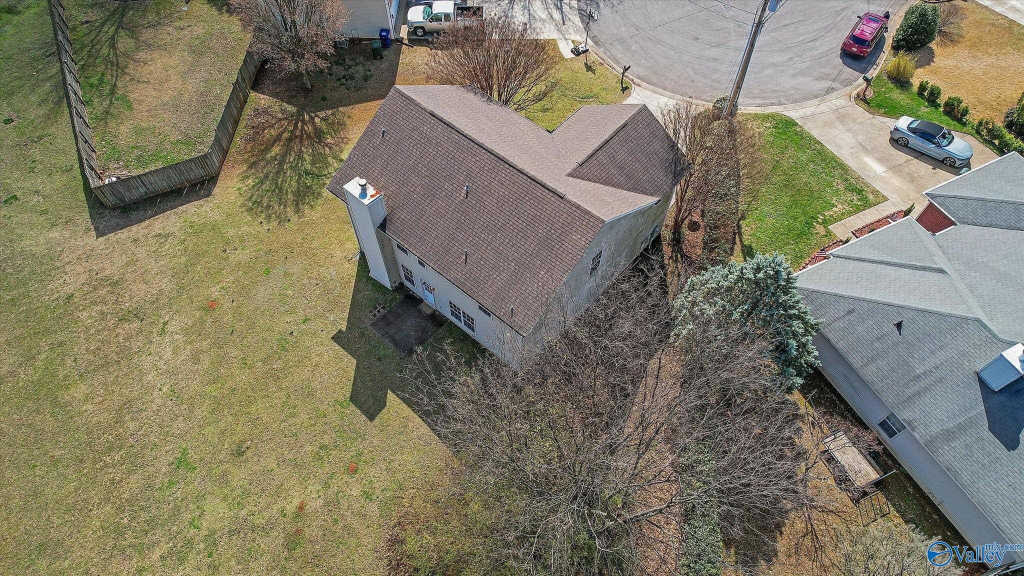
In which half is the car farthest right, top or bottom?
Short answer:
top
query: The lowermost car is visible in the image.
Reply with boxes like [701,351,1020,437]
[893,112,976,164]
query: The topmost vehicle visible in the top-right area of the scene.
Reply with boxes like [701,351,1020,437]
[844,13,892,59]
